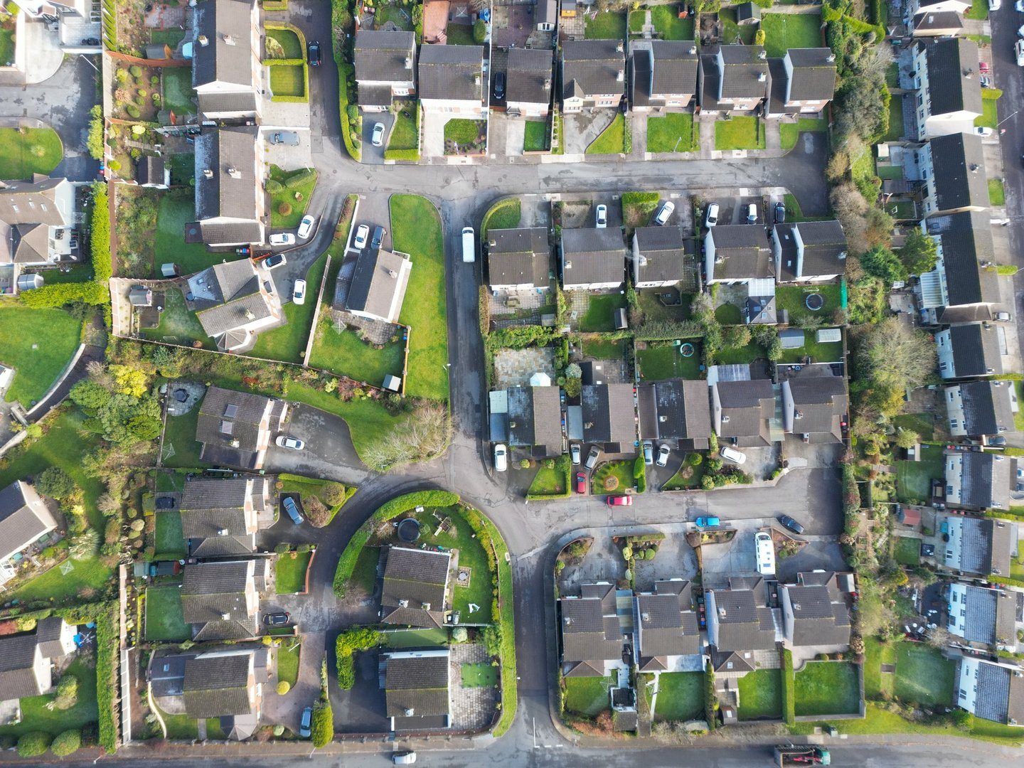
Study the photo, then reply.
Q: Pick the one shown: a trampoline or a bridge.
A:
trampoline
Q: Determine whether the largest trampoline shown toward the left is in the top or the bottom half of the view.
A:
bottom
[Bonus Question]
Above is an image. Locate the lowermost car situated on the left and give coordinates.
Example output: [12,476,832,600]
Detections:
[393,750,415,764]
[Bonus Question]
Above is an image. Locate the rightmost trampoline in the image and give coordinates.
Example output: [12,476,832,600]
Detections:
[804,292,827,311]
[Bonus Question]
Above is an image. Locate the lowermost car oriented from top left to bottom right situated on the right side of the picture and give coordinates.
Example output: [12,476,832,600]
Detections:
[780,514,804,535]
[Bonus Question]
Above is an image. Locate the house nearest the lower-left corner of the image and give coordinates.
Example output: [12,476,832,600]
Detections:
[0,612,78,701]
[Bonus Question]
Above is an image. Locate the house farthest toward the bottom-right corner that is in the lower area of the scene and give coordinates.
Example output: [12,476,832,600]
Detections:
[960,654,1024,729]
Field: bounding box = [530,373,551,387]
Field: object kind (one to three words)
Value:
gazebo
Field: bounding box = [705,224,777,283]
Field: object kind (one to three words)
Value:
house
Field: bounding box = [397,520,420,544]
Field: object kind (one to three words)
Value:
trampoline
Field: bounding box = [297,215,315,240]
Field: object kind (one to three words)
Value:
car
